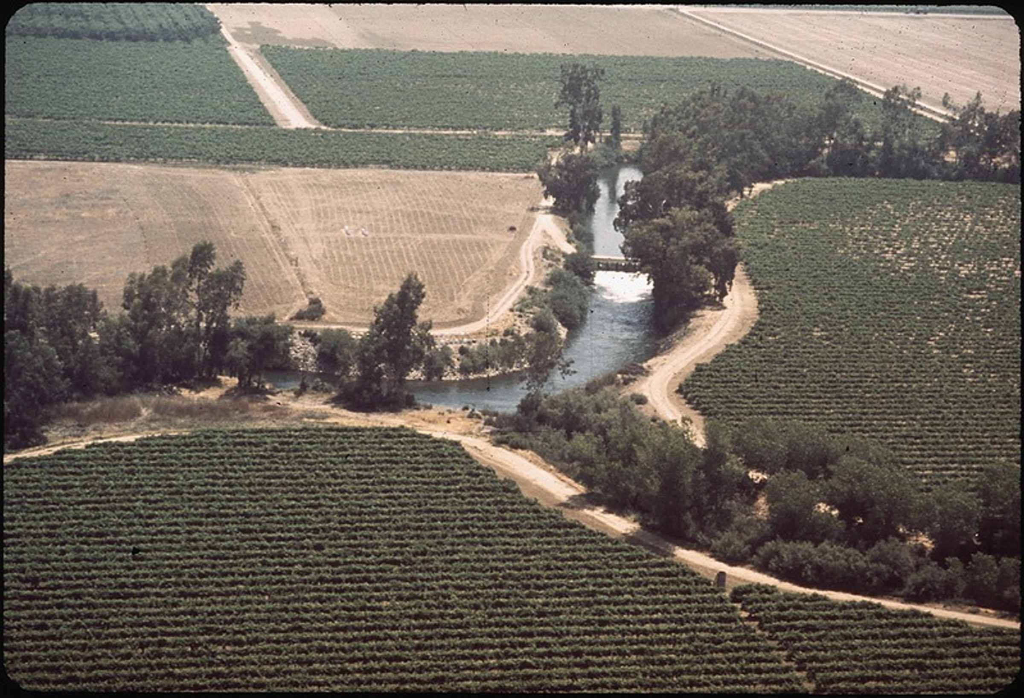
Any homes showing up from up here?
No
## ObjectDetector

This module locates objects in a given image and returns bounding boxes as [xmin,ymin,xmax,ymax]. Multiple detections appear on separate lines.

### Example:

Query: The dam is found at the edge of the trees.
[581,255,654,272]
